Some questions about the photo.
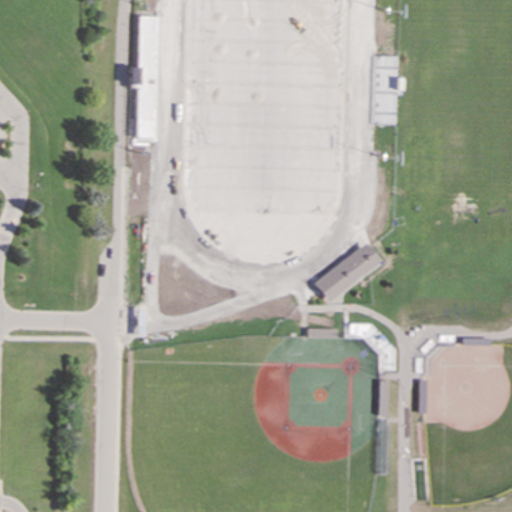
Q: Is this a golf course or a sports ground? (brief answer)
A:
sports ground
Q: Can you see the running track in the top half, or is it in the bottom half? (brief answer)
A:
top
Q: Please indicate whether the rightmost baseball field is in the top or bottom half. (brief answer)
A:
bottom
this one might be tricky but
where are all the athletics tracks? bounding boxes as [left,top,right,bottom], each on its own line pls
[170,0,372,284]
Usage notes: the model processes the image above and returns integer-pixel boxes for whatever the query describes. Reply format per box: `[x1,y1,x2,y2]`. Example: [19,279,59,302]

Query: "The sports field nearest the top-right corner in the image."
[187,0,344,264]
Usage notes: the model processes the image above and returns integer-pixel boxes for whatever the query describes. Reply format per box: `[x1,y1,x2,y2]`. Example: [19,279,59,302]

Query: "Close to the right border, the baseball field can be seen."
[426,346,512,506]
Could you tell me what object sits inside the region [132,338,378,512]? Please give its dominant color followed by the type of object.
green baseball field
